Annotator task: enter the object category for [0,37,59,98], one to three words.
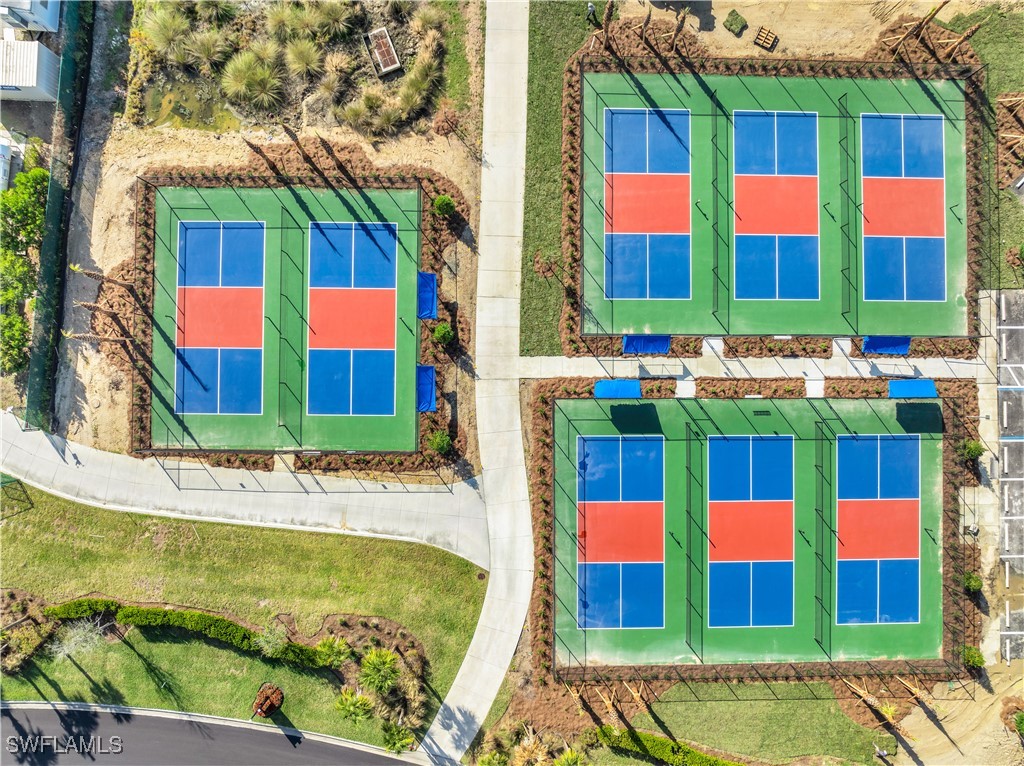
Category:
shed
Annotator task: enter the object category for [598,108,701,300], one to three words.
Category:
sports court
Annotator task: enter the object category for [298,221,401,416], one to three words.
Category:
sports court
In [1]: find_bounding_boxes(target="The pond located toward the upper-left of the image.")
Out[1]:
[139,74,246,134]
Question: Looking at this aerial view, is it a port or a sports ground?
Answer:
sports ground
